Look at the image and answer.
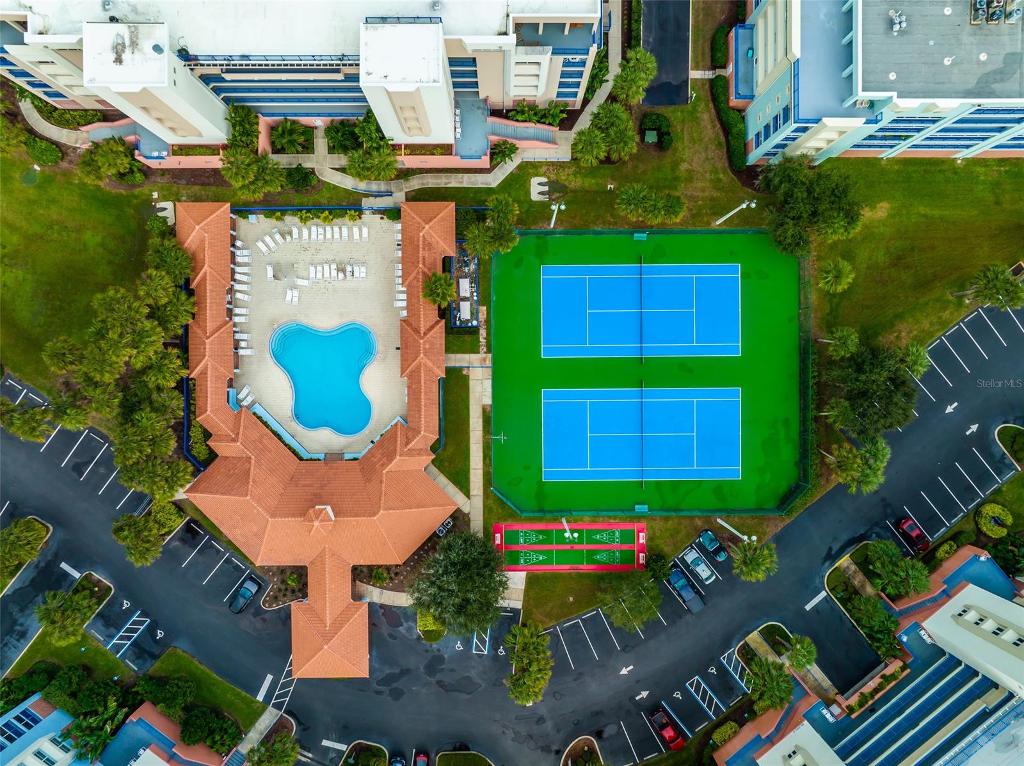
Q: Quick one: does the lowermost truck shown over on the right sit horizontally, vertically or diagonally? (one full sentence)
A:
From this overhead view, the lowermost truck shown over on the right appears to run diagonally.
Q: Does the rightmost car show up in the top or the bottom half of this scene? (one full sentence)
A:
Seen from above, the rightmost car lies in the bottom half of the view.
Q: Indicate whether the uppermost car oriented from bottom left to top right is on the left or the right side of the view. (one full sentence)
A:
The uppermost car oriented from bottom left to top right appears in the left half of the scene.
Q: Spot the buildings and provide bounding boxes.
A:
[709,545,1024,766]
[727,0,1024,166]
[175,201,457,679]
[0,693,250,766]
[0,0,604,165]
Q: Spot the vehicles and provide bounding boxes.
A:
[893,516,928,553]
[228,576,263,616]
[646,707,685,752]
[682,546,719,587]
[665,567,707,615]
[411,749,430,766]
[390,752,407,766]
[697,526,730,565]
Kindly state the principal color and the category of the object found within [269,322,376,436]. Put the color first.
blue swimming pool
